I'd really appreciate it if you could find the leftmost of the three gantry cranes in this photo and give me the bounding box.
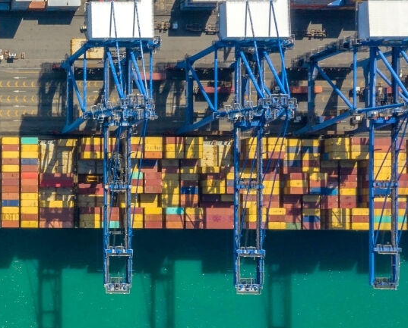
[45,0,157,292]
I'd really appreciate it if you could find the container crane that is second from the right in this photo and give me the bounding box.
[158,0,298,293]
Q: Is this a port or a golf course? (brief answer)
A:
port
